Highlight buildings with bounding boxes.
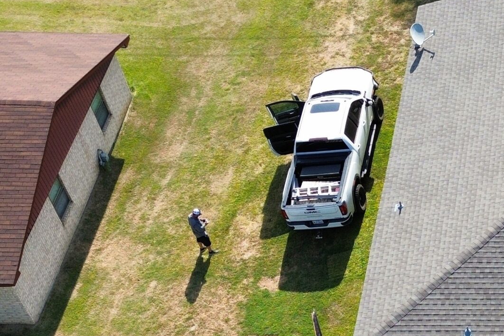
[353,0,504,336]
[0,32,127,325]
